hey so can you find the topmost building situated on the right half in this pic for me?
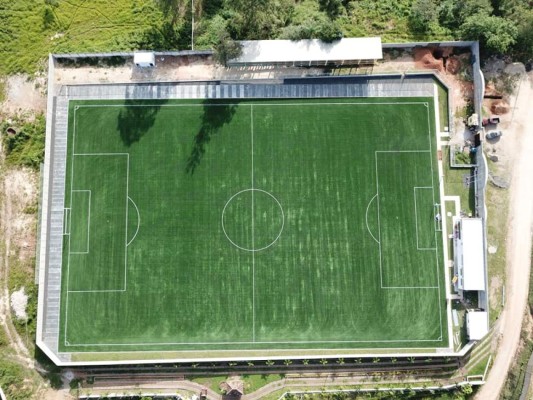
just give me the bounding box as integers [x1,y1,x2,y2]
[454,217,484,291]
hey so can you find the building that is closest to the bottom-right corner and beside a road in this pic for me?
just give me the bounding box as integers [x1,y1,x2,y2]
[464,310,488,340]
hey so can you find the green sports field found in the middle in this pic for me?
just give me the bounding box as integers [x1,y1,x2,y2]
[57,96,449,353]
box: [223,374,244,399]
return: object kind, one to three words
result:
gazebo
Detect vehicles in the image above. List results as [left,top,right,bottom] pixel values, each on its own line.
[486,132,502,140]
[483,117,501,125]
[467,110,479,131]
[132,54,154,66]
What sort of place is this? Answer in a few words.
sports ground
